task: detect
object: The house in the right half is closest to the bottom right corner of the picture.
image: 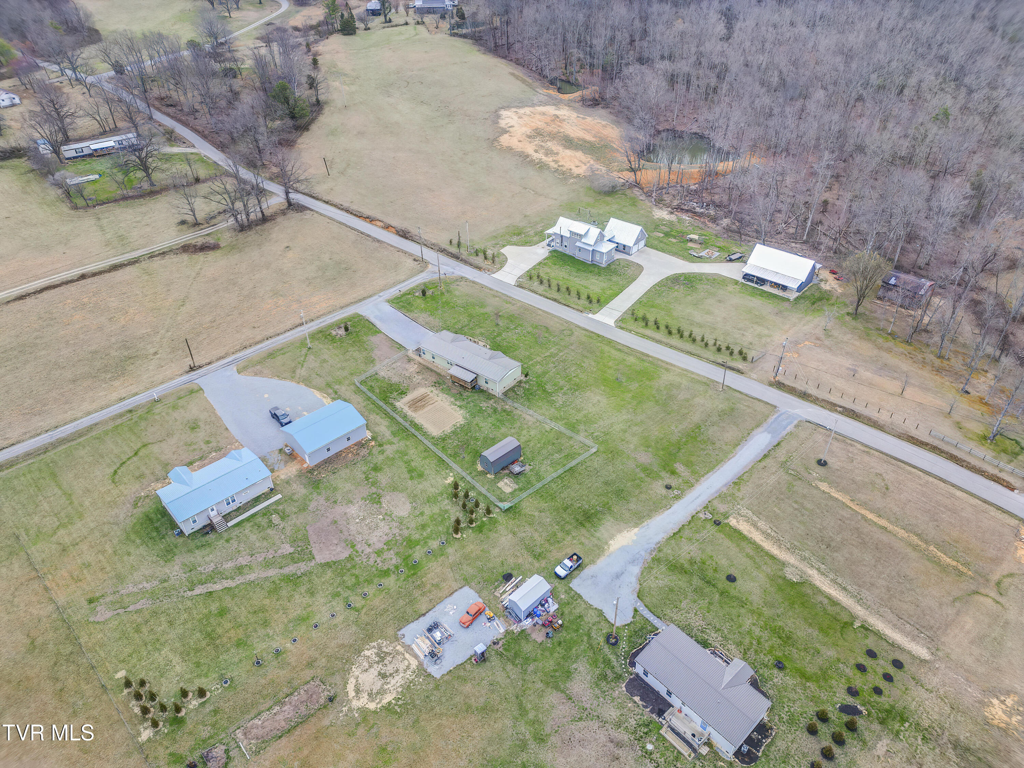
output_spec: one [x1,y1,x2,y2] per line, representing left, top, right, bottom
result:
[631,624,772,758]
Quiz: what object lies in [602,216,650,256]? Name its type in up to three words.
building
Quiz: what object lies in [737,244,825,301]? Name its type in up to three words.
barn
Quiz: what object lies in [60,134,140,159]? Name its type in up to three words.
house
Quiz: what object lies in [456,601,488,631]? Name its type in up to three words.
car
